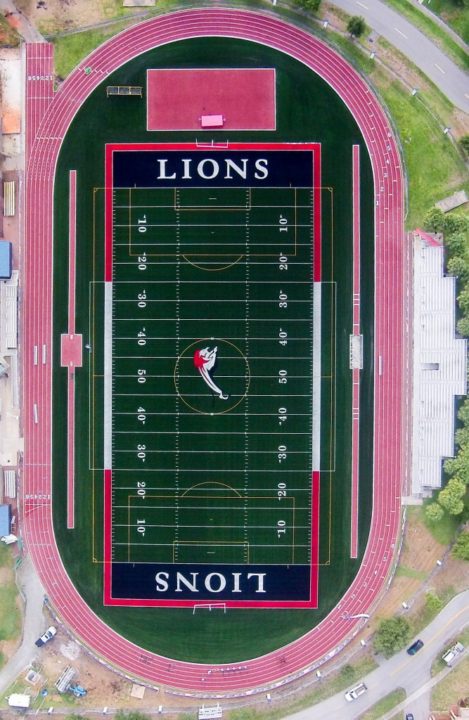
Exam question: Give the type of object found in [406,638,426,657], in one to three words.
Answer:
car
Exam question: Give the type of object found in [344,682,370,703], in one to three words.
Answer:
truck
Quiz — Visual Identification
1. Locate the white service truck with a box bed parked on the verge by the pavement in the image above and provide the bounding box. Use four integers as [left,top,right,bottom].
[441,642,467,669]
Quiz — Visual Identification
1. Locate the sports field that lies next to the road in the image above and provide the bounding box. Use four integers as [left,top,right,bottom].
[52,37,373,664]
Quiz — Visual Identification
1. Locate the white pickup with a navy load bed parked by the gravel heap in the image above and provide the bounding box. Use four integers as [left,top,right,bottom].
[32,625,58,650]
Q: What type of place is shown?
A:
sports ground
